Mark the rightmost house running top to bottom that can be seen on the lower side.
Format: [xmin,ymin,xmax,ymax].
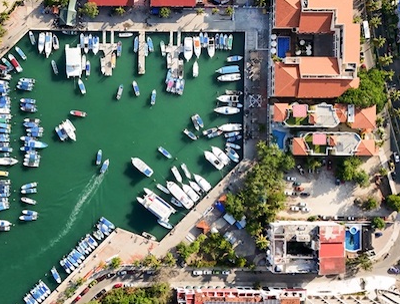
[358,223,376,258]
